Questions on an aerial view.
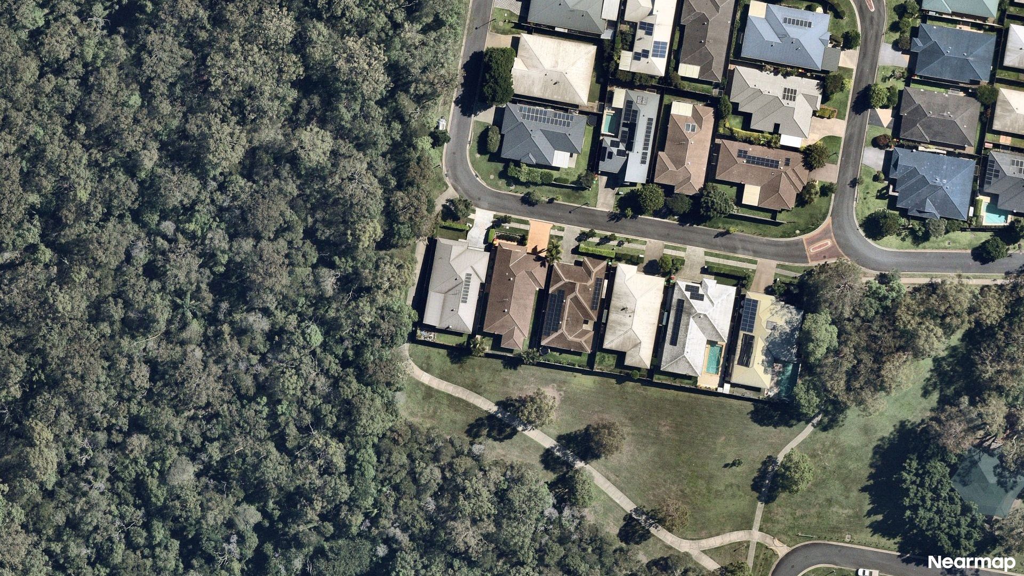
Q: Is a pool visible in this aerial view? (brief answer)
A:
Yes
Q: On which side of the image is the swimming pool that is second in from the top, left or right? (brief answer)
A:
right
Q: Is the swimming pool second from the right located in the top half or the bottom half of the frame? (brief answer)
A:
bottom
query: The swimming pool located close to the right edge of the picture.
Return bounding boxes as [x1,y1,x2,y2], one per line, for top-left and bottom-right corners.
[980,195,1012,226]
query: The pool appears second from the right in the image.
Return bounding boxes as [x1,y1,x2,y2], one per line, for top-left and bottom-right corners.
[776,362,801,398]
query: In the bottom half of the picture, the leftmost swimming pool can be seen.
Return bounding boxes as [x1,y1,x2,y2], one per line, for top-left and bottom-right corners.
[705,342,723,376]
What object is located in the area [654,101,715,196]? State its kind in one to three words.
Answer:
house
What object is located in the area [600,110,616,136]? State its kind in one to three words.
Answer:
swimming pool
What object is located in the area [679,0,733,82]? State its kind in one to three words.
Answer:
house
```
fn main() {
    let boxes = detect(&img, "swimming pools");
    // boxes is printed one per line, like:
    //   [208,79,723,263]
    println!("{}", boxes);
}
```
[705,342,723,376]
[600,110,616,136]
[980,195,1012,226]
[776,362,801,398]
